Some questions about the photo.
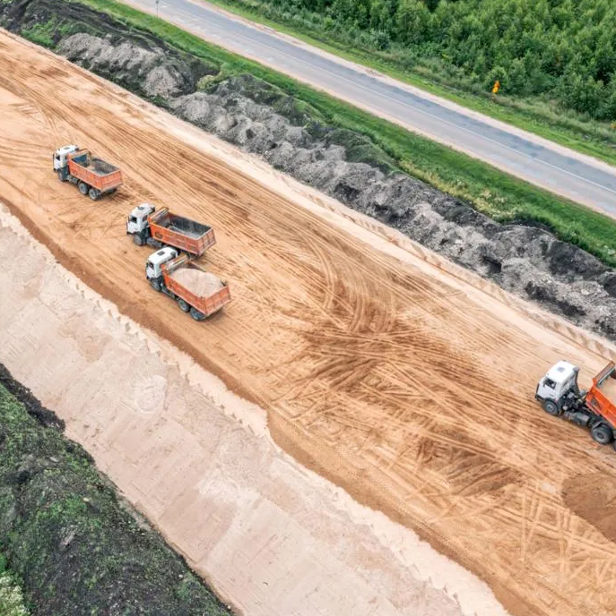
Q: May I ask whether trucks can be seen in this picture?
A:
Yes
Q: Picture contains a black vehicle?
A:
No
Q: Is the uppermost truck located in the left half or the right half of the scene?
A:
left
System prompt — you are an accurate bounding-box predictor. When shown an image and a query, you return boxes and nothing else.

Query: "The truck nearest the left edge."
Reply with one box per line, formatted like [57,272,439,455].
[49,139,123,199]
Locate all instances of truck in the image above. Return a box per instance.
[123,199,214,261]
[534,352,616,445]
[49,139,123,199]
[141,239,236,319]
